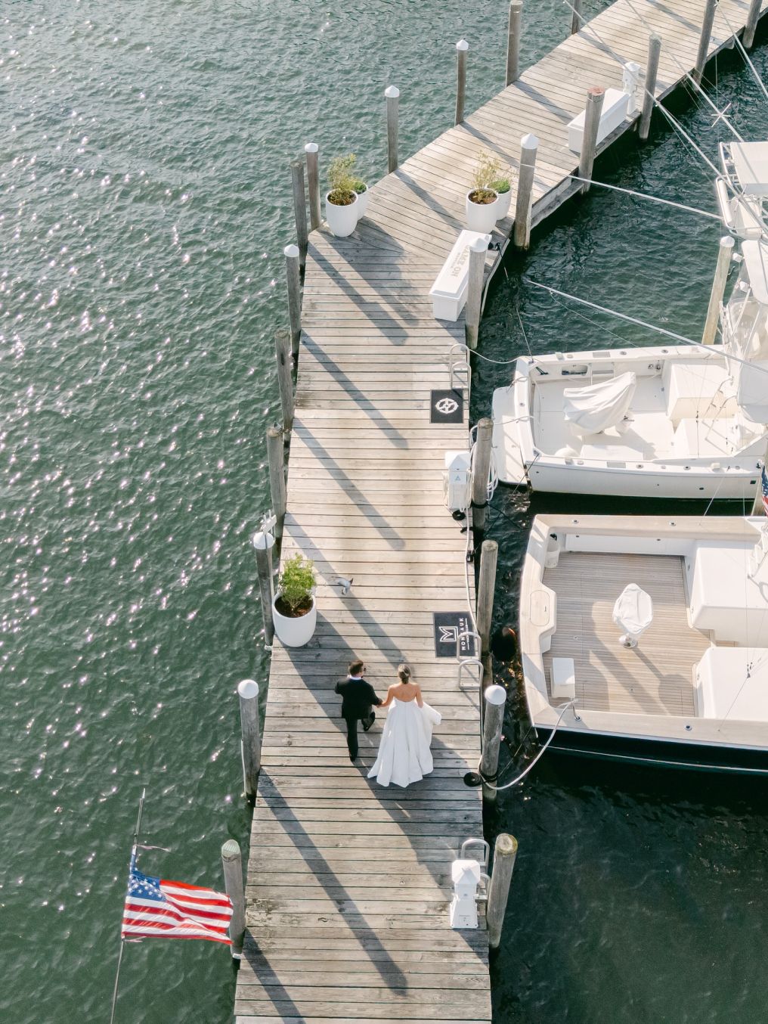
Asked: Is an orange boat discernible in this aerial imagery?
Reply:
No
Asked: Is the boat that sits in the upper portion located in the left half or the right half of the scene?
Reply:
right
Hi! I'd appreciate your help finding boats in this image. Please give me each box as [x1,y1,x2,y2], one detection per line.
[492,0,768,499]
[519,455,768,777]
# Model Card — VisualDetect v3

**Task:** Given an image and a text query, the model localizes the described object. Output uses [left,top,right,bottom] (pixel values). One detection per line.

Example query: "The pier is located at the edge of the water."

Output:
[233,0,768,1024]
